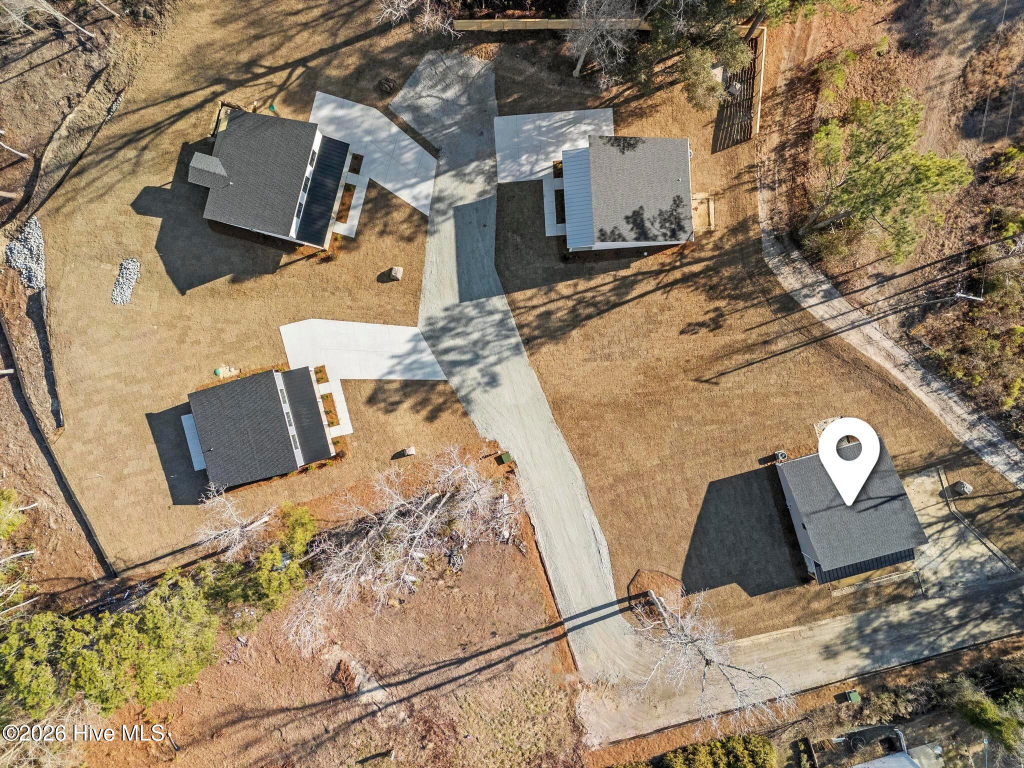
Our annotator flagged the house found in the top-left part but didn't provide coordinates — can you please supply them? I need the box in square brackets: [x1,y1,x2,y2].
[187,109,351,252]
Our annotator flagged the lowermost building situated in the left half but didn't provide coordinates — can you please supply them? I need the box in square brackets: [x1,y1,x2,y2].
[186,367,335,491]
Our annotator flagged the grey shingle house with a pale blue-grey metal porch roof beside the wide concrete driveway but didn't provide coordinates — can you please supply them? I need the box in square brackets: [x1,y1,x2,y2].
[564,134,698,255]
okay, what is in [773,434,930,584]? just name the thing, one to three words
house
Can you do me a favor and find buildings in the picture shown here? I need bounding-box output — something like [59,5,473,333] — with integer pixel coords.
[187,109,351,252]
[835,739,919,768]
[564,134,698,255]
[773,434,930,584]
[186,367,335,491]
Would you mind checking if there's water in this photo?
No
